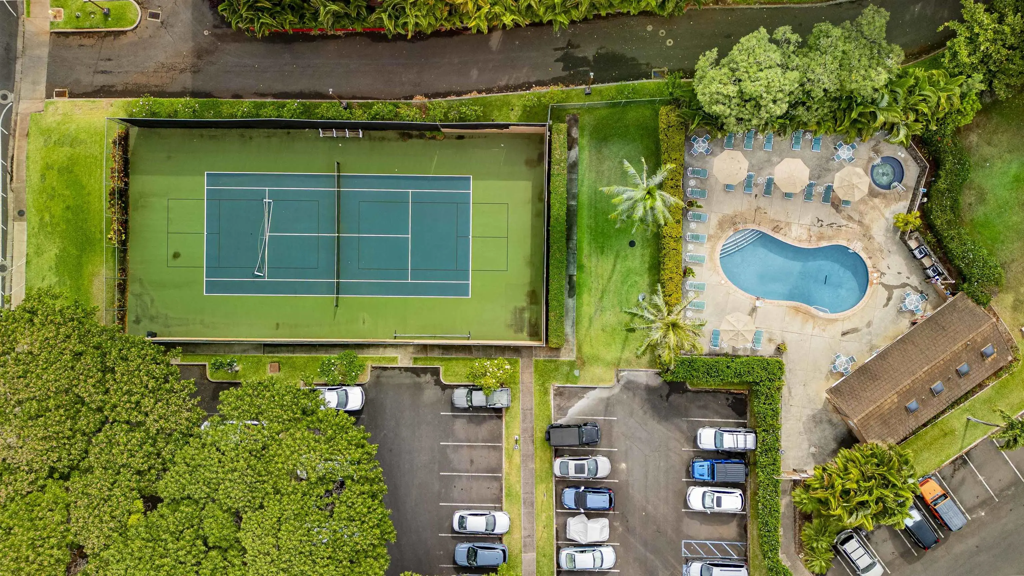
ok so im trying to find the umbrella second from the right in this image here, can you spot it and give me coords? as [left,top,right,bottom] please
[774,158,809,193]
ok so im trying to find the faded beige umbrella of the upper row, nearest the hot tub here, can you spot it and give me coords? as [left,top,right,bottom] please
[833,167,868,201]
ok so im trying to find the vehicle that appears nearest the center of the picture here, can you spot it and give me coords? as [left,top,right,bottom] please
[452,386,512,410]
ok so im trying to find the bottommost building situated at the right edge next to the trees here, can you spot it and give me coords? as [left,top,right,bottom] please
[823,291,1012,451]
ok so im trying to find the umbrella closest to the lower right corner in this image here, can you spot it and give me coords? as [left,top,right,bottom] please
[719,312,755,347]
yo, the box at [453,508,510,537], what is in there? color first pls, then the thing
white car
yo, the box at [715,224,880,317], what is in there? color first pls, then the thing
blue swimming pool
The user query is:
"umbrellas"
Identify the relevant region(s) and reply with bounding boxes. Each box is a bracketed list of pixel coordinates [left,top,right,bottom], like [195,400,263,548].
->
[719,312,755,347]
[713,149,748,184]
[833,167,868,201]
[774,158,809,193]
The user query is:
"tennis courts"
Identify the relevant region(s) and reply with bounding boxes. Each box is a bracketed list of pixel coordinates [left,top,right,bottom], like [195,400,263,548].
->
[127,128,546,343]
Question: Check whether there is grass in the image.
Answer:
Yes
